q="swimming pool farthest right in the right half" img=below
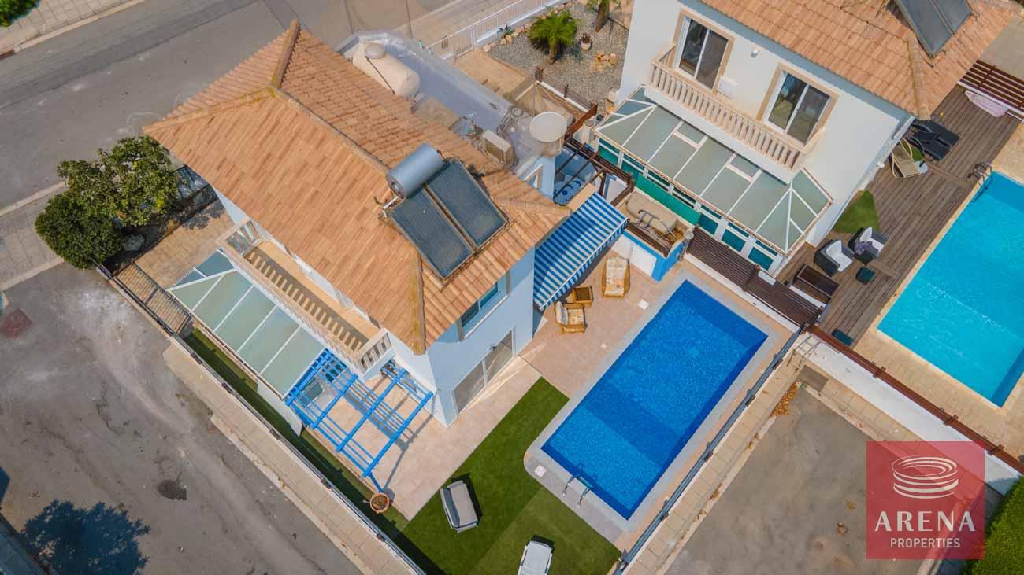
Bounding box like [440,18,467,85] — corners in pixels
[873,166,1024,422]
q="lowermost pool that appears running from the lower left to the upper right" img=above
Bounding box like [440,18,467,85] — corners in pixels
[524,271,783,547]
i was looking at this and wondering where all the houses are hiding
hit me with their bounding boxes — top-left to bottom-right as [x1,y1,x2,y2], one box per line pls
[143,17,599,439]
[591,0,1018,286]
